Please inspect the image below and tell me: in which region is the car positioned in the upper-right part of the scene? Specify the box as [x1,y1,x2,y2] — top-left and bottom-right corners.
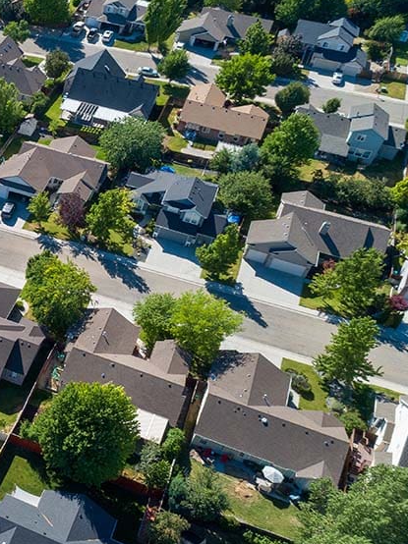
[331,71,345,86]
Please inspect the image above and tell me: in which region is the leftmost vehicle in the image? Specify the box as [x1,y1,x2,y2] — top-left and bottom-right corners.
[1,200,16,219]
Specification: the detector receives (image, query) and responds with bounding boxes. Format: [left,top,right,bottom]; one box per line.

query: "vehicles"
[103,31,113,41]
[72,20,85,34]
[137,69,160,79]
[86,27,98,41]
[1,200,16,219]
[331,71,345,86]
